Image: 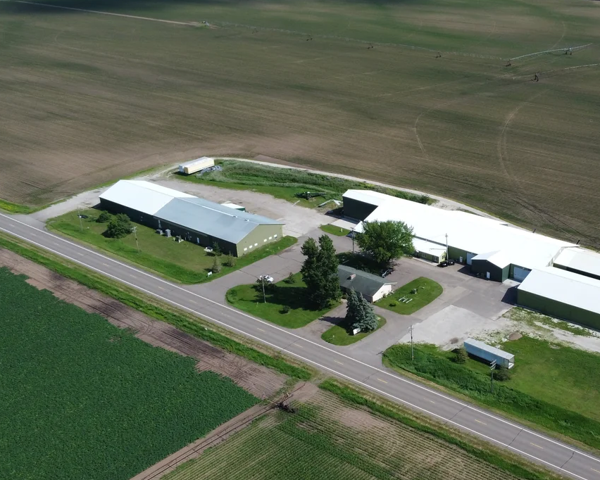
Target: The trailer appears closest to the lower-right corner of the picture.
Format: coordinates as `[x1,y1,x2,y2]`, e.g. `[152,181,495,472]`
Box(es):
[460,332,515,366]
